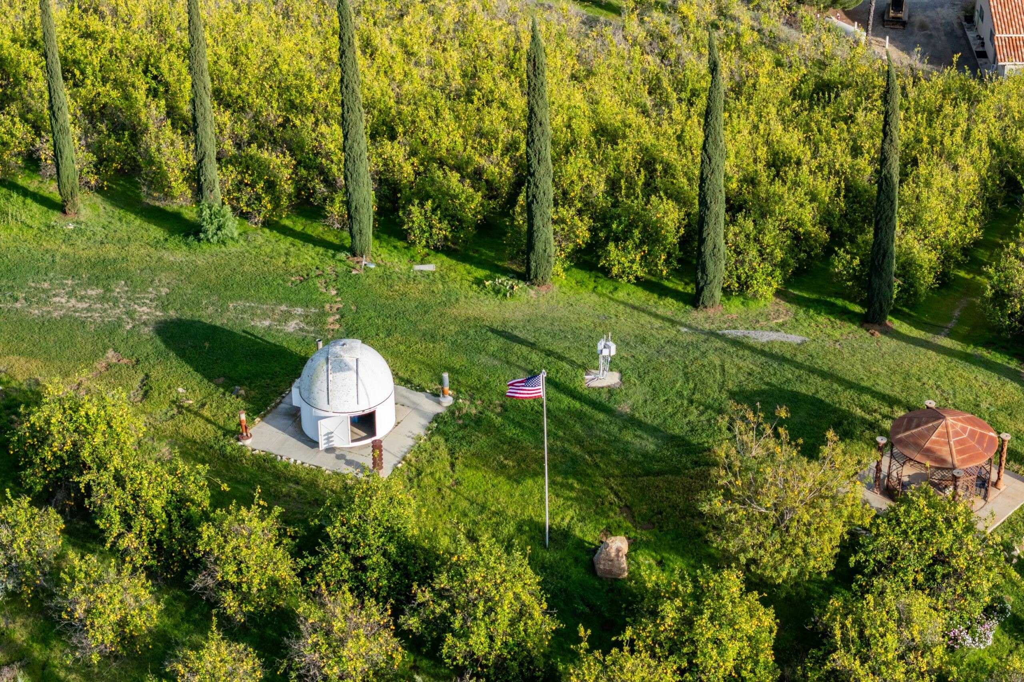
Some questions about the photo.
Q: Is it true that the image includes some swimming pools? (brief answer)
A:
No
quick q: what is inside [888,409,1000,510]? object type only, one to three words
gazebo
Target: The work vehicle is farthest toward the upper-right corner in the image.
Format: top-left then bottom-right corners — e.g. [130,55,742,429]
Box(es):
[884,0,907,29]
